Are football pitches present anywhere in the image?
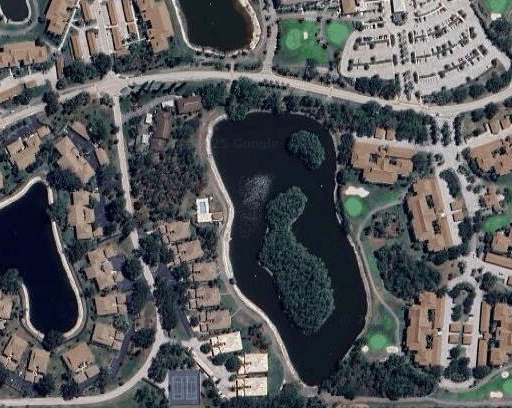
No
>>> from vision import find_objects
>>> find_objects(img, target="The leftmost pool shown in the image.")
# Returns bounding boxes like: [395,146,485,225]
[196,200,212,223]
